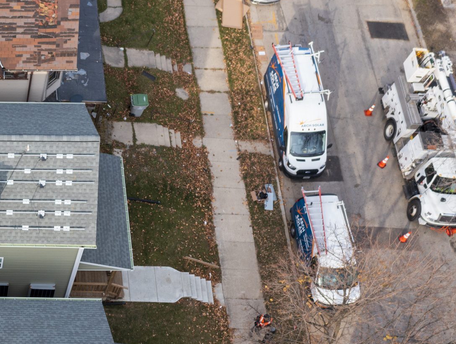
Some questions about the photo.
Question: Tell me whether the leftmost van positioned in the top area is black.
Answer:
No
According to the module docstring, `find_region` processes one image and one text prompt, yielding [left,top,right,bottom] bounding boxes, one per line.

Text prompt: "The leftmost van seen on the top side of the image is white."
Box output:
[266,46,346,185]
